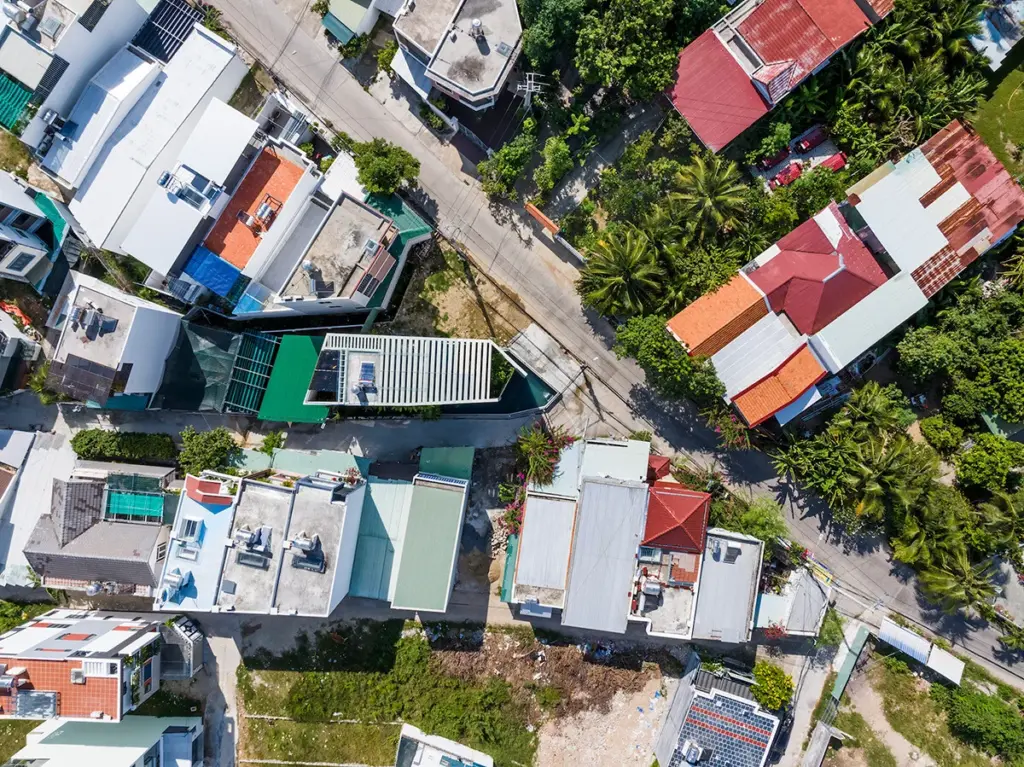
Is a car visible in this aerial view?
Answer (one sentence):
Yes, there's a car down there.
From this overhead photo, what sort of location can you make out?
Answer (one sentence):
This image shows a residential area.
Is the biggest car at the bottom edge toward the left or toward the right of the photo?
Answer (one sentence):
The biggest car at the bottom edge appears in the right half of the scene.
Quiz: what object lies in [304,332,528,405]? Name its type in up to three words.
house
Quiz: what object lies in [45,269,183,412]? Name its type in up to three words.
house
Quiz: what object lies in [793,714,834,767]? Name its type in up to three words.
shed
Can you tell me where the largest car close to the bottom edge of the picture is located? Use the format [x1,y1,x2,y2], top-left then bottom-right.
[768,724,794,762]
